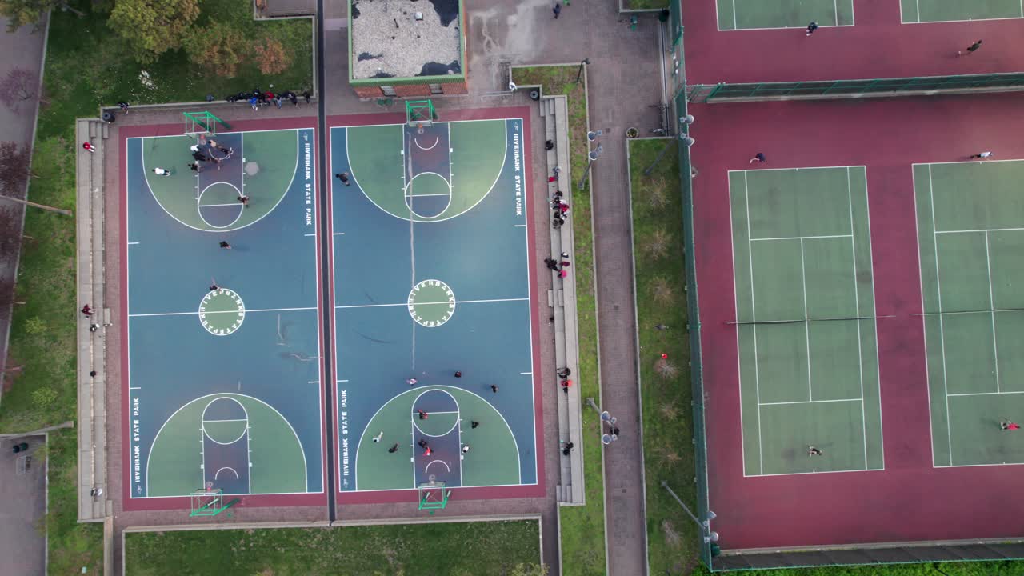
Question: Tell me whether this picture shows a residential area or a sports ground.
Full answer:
This looks like a sports ground.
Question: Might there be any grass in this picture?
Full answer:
Yes, grass can be seen from above here.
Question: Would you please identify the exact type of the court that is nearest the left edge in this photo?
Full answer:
From above, the court that is nearest the left edge can be identified as a basketball court.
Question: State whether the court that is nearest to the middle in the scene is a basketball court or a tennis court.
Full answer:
Looking closely, the court that is nearest to the middle is a basketball court.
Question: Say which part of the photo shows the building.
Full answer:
You can find the building in the top area of the picture.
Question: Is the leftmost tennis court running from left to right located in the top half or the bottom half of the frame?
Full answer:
The leftmost tennis court running from left to right is in the top half of the image.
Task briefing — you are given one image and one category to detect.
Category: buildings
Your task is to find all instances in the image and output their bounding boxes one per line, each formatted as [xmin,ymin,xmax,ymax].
[348,0,467,99]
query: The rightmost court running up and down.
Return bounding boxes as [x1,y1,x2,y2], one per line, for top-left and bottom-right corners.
[913,160,1024,467]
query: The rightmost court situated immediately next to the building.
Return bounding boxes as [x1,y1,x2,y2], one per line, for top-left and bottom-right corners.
[328,107,545,504]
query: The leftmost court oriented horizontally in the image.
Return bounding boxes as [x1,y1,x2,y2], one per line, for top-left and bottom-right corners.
[716,0,855,31]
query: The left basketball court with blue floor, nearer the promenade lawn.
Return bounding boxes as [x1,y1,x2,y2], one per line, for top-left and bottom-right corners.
[119,118,328,510]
